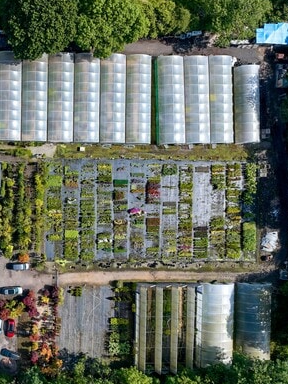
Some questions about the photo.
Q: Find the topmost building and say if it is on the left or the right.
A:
right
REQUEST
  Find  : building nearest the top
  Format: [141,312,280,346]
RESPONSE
[257,21,288,44]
